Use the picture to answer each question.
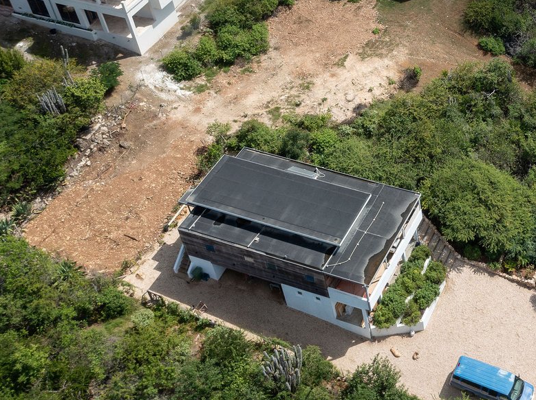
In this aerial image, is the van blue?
Yes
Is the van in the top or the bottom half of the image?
bottom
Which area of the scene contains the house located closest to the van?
center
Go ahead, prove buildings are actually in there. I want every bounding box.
[168,144,416,340]
[0,0,202,55]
